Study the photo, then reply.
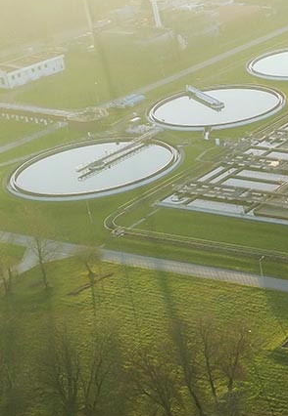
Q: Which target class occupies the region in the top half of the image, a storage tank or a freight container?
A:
storage tank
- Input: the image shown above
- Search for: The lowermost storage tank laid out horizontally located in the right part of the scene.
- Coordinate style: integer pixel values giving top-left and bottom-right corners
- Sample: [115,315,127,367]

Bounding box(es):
[147,84,288,132]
